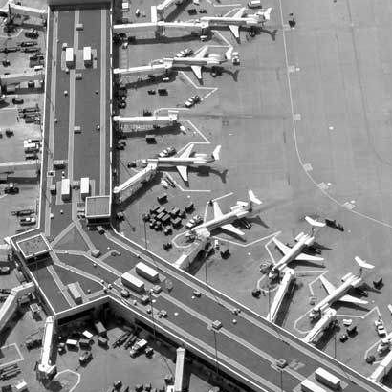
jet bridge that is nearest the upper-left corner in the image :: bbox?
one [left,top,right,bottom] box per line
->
[0,0,46,26]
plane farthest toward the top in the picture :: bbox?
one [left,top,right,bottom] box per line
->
[192,3,271,36]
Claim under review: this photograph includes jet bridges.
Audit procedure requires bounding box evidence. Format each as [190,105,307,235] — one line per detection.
[0,160,42,185]
[172,345,187,392]
[266,266,294,325]
[113,109,179,136]
[38,314,60,384]
[156,21,209,42]
[112,59,174,88]
[155,0,186,21]
[0,0,46,26]
[0,280,37,338]
[174,227,212,270]
[300,305,336,346]
[369,337,392,383]
[0,71,44,96]
[114,157,158,208]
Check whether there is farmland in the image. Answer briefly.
No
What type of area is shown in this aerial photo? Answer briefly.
airport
